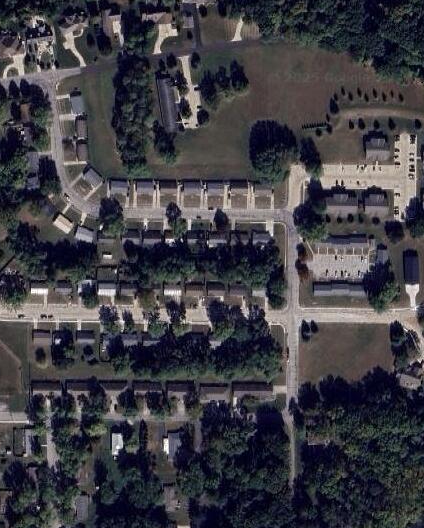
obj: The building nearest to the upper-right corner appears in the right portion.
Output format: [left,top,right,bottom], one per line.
[366,139,391,159]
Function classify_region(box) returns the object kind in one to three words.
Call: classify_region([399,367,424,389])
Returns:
house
